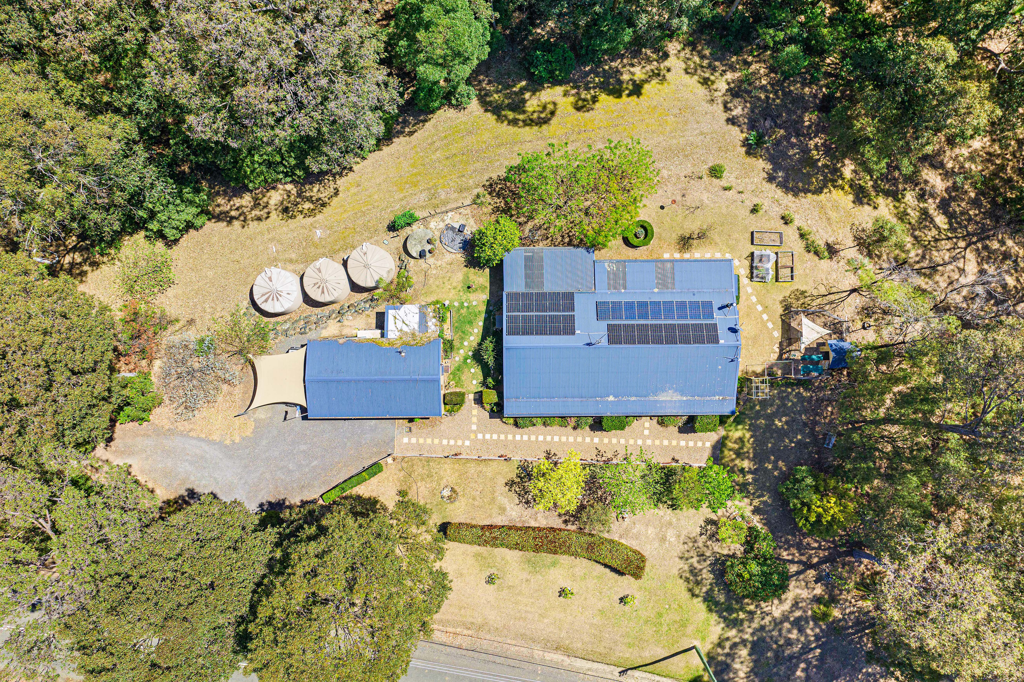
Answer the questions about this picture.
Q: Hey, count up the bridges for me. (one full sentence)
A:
The picture shows no bridges.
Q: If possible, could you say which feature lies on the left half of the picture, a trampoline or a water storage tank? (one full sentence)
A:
What appears on the left half of the picture is a water storage tank.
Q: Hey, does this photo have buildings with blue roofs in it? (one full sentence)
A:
Yes, there is a building with a blue roof in the image.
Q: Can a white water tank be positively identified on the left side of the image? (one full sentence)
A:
Yes, the scene does show a white water tank on the left side of the image.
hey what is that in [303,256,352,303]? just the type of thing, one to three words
water tank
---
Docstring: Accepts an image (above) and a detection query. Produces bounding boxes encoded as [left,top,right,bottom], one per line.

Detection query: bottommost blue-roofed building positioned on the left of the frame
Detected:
[305,337,444,420]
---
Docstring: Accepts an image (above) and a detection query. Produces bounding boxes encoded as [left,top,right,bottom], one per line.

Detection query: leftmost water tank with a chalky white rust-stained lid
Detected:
[252,265,304,312]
